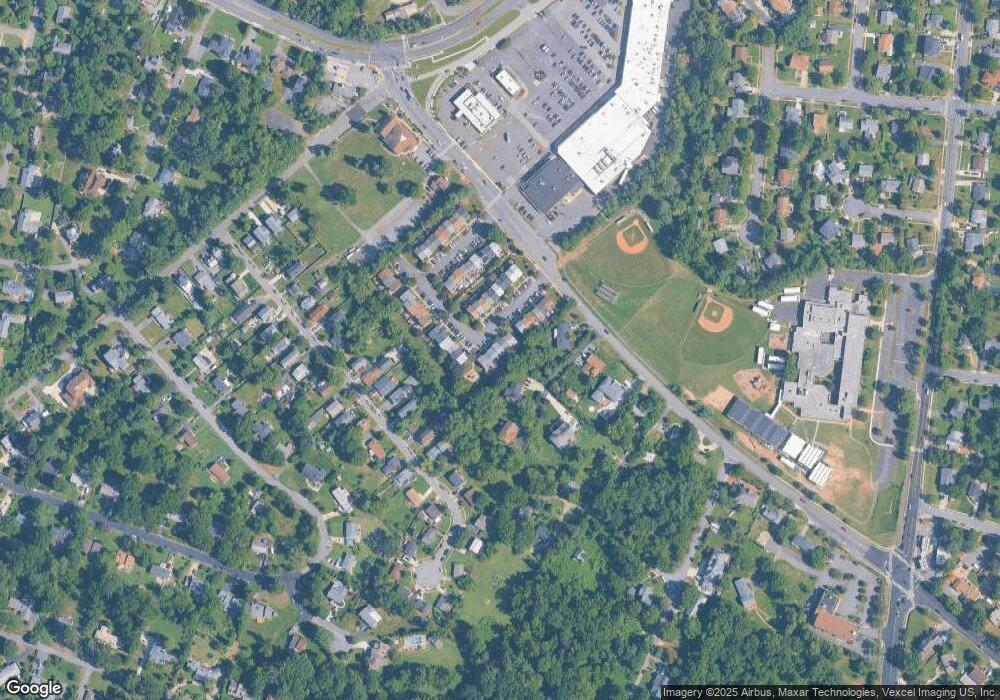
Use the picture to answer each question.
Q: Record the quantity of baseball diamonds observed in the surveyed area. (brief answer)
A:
2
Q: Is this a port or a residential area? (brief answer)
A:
residential area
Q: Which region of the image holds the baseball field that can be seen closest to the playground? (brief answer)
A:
right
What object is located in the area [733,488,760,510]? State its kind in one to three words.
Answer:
house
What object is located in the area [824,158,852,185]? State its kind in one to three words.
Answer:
house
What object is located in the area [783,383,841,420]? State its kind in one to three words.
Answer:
building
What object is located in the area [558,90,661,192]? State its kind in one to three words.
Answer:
building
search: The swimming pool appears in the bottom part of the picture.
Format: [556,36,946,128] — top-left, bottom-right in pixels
[402,633,428,647]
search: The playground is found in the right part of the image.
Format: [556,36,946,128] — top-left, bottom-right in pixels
[733,370,777,402]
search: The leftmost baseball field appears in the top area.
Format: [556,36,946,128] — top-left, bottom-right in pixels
[582,216,677,289]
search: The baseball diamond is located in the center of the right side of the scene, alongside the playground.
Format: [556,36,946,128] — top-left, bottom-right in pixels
[684,292,779,372]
